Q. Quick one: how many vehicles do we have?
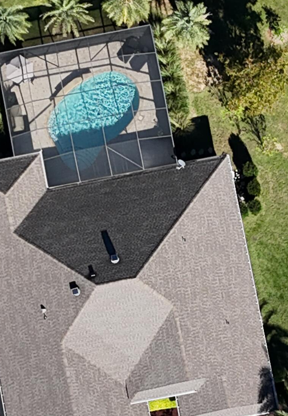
zero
